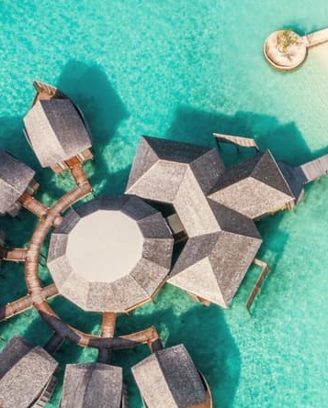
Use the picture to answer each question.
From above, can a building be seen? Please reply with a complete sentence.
Yes, looking at the shot, I can spot a building.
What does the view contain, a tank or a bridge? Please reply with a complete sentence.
This aerial view contains a bridge.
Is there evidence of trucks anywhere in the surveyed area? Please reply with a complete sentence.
No, the scene contains no truck.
